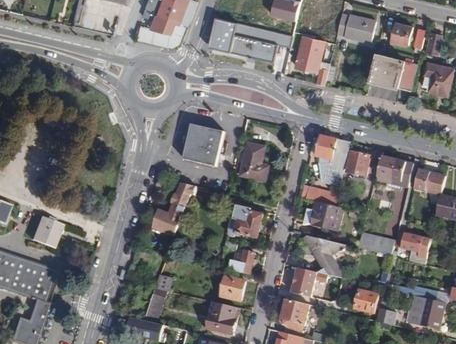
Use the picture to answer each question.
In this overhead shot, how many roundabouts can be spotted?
1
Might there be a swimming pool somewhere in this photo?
No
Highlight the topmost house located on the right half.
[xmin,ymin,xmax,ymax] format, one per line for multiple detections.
[270,0,298,22]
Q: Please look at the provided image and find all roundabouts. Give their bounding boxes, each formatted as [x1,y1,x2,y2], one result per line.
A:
[120,52,184,118]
